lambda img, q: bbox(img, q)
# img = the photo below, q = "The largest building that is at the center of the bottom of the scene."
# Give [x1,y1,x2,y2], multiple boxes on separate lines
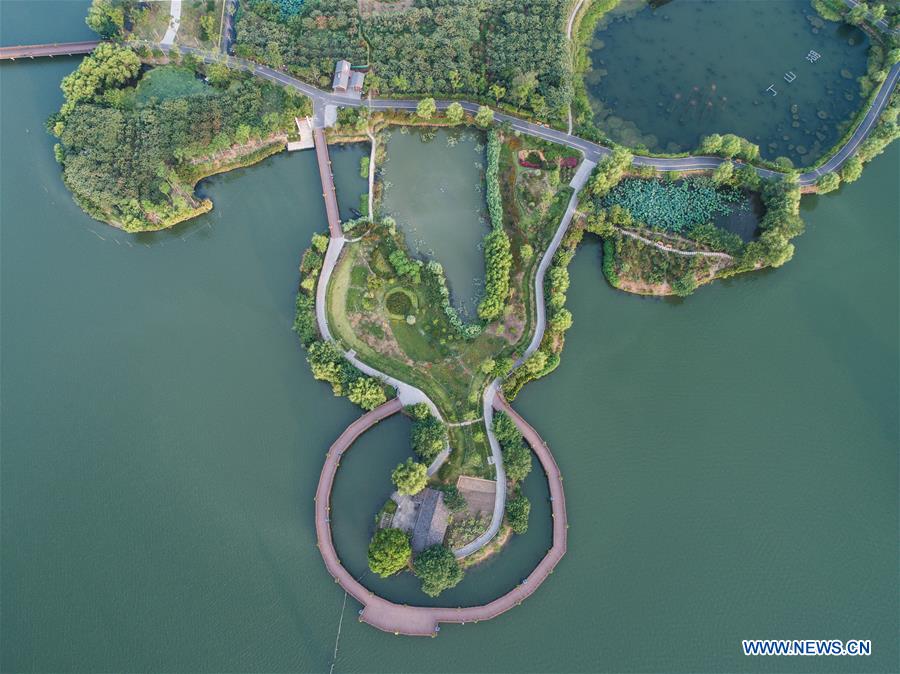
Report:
[412,488,451,550]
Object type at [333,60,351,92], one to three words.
house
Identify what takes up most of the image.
water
